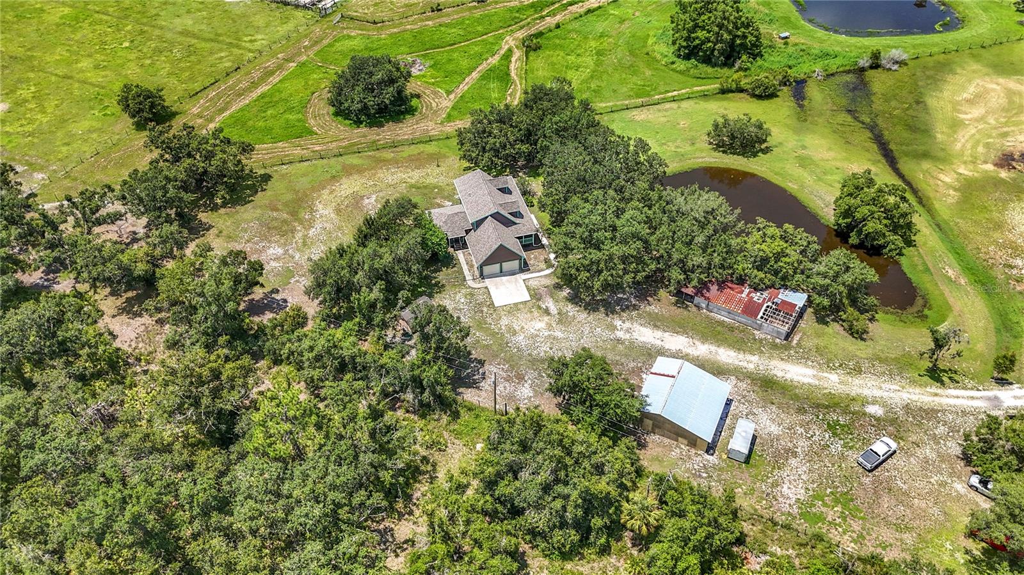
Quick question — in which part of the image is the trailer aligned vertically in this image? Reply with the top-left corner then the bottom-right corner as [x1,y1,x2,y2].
[726,417,754,463]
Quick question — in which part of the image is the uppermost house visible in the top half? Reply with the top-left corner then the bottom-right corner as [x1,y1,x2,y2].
[425,169,545,277]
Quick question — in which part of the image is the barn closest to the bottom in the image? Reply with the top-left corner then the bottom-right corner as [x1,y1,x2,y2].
[640,358,730,453]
